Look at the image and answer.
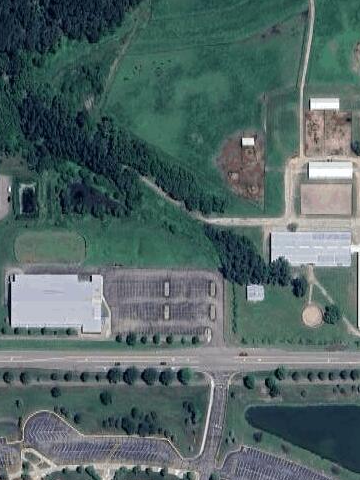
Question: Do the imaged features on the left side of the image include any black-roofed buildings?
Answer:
No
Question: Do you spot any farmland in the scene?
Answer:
Yes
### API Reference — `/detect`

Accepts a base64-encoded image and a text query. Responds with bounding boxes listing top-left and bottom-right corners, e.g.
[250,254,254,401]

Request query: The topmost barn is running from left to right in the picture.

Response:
[310,99,340,112]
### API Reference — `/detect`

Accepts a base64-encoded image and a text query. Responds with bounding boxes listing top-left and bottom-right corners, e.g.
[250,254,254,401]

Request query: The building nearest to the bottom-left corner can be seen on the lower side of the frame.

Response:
[11,274,104,336]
